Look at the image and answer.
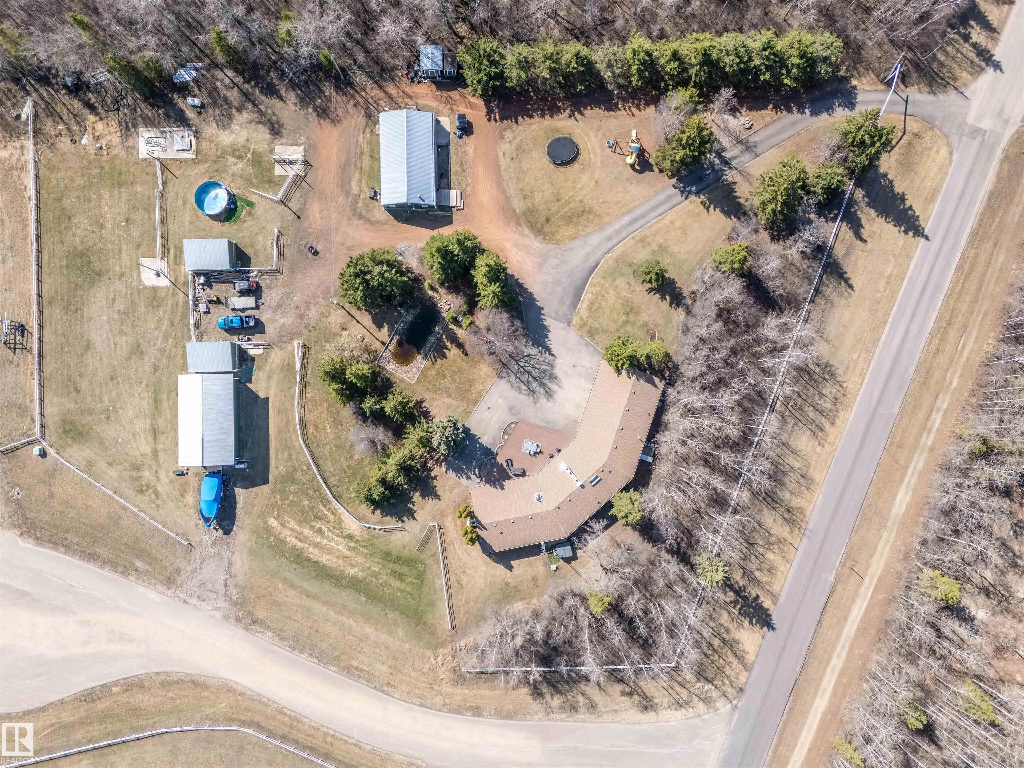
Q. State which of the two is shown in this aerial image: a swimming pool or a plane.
swimming pool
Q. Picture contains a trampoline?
Yes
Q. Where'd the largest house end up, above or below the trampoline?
below it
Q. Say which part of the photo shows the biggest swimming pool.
top left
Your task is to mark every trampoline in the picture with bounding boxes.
[546,133,579,163]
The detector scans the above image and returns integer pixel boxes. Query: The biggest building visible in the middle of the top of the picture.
[379,109,437,210]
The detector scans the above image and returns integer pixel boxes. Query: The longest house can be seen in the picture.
[470,360,665,555]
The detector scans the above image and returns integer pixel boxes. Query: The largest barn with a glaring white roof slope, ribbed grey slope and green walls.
[177,373,242,472]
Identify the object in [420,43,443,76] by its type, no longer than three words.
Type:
shed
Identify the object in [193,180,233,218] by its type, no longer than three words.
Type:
swimming pool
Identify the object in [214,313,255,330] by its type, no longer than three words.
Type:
vehicle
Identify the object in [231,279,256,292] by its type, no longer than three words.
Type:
vehicle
